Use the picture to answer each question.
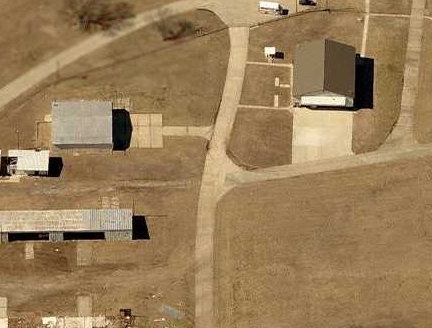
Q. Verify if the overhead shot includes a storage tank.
No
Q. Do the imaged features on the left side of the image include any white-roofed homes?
Yes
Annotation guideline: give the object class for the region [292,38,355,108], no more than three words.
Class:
hangar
